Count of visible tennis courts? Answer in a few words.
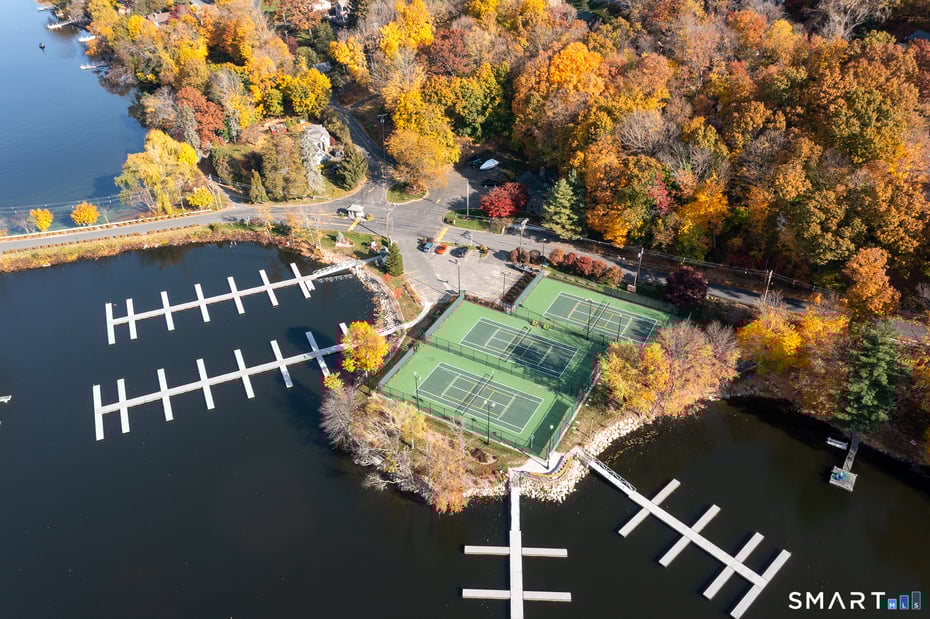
3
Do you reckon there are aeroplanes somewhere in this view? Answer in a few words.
No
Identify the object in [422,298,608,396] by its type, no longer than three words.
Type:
tennis court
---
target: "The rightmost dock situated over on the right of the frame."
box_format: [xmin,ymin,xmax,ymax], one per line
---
[827,435,860,495]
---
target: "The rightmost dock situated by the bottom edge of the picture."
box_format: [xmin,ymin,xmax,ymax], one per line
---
[618,479,791,619]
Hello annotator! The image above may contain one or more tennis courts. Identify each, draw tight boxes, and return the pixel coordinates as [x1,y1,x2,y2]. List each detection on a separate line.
[422,298,608,396]
[375,340,579,460]
[510,273,680,355]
